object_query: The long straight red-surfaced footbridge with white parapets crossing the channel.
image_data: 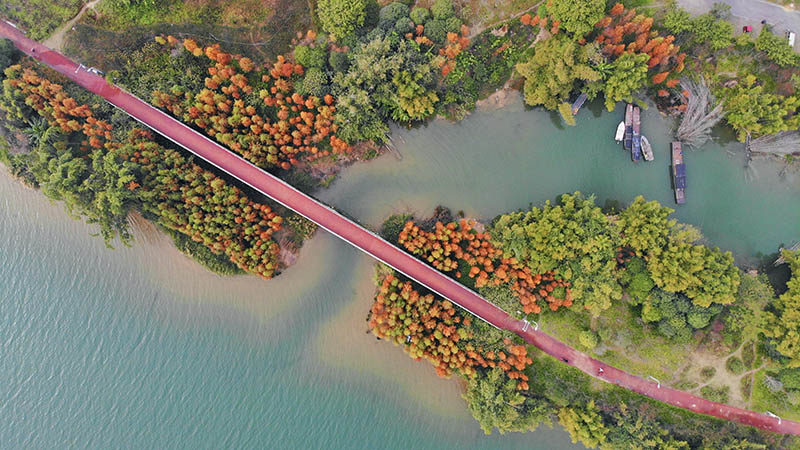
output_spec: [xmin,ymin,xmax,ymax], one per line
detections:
[102,82,506,328]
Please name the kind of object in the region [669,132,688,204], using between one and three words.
vessel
